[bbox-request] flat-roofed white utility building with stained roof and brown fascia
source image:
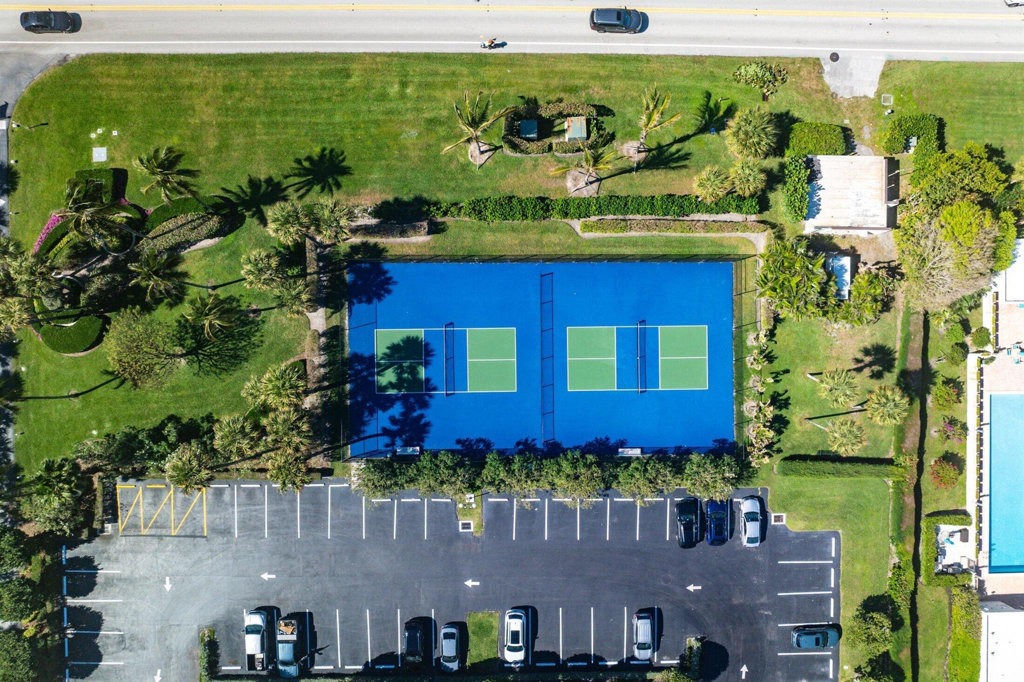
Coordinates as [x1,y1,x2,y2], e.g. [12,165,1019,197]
[791,156,903,235]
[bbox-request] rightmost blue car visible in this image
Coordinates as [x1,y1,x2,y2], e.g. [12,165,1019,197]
[789,625,840,652]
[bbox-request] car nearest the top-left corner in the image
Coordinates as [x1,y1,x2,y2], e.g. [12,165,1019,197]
[21,9,76,35]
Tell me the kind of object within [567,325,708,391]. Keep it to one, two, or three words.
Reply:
sports court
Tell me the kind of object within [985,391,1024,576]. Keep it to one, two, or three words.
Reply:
swimming pool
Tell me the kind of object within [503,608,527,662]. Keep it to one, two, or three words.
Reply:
car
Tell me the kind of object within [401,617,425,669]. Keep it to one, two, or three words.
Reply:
car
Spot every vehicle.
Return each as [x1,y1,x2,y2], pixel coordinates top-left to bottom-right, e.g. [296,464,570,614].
[632,611,656,660]
[273,617,300,677]
[438,622,461,672]
[589,6,641,35]
[789,625,840,652]
[503,608,527,662]
[241,609,269,673]
[674,499,699,549]
[21,9,76,35]
[704,497,730,547]
[738,496,763,548]
[401,617,425,669]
